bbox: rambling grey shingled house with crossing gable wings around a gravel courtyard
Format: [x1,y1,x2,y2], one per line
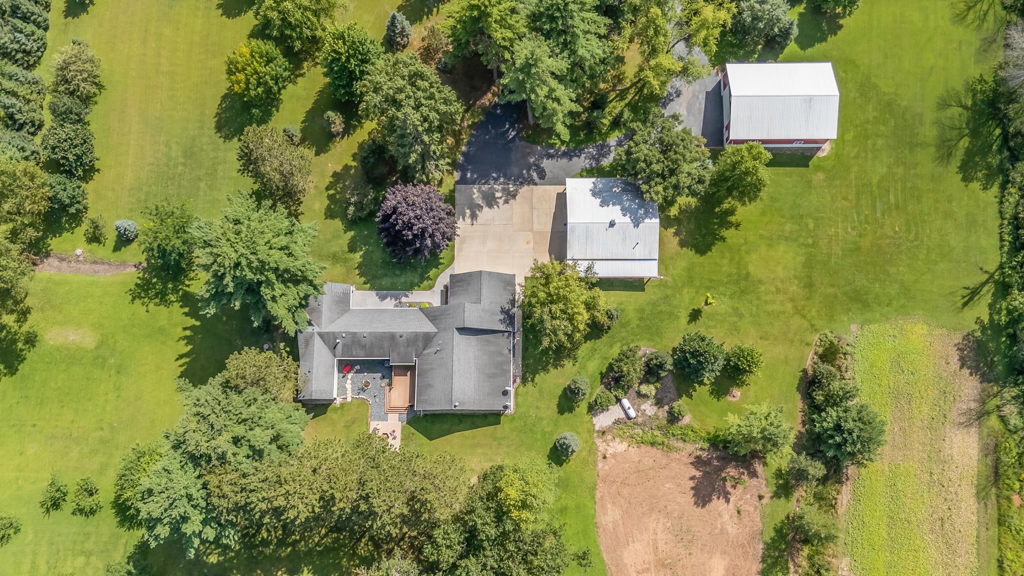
[295,271,516,414]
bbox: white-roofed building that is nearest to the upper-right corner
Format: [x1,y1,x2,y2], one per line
[719,63,839,148]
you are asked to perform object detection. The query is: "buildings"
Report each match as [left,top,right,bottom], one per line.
[719,63,839,148]
[565,179,659,280]
[295,271,516,414]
